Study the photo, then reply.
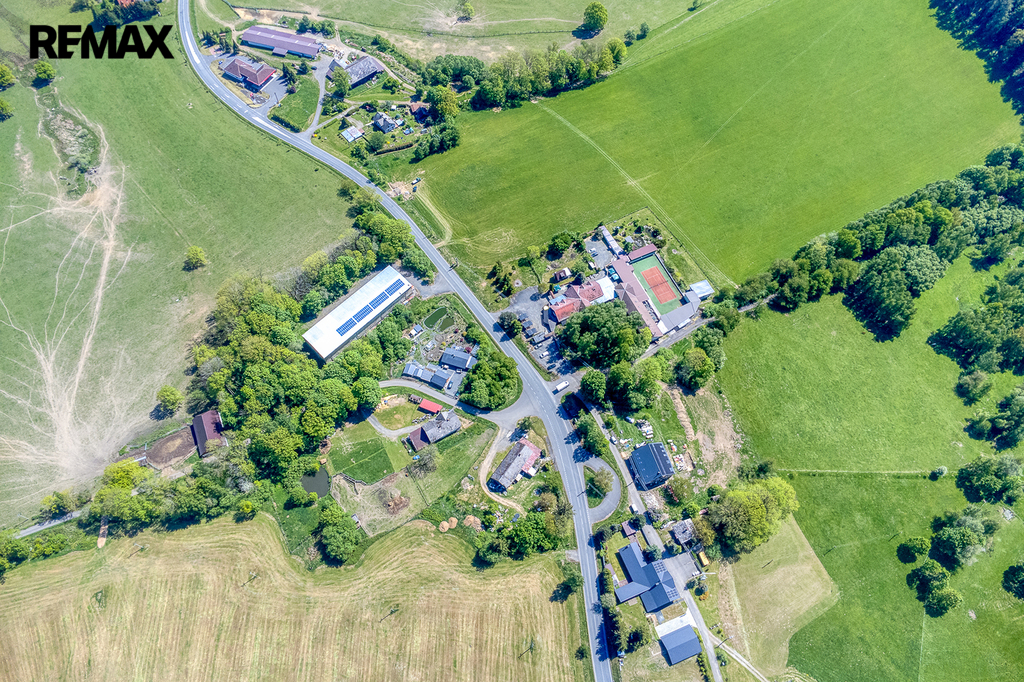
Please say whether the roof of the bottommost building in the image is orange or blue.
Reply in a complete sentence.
The roof of the bottommost building is blue.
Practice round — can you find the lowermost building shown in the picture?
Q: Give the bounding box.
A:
[660,625,702,664]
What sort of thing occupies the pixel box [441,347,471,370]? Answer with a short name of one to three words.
house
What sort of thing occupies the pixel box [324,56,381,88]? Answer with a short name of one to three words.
barn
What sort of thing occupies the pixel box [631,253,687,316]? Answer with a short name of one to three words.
tennis court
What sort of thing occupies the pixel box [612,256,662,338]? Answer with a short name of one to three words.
building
